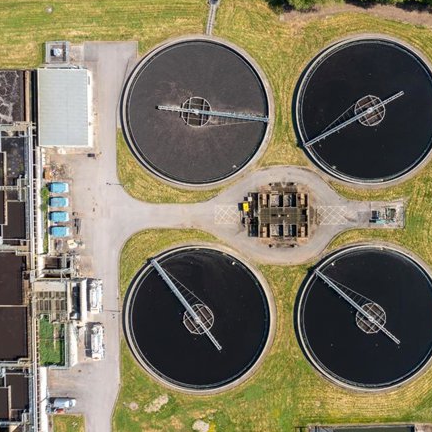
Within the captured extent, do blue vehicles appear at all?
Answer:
No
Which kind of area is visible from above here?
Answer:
industrial area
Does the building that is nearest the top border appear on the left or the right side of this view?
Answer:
left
